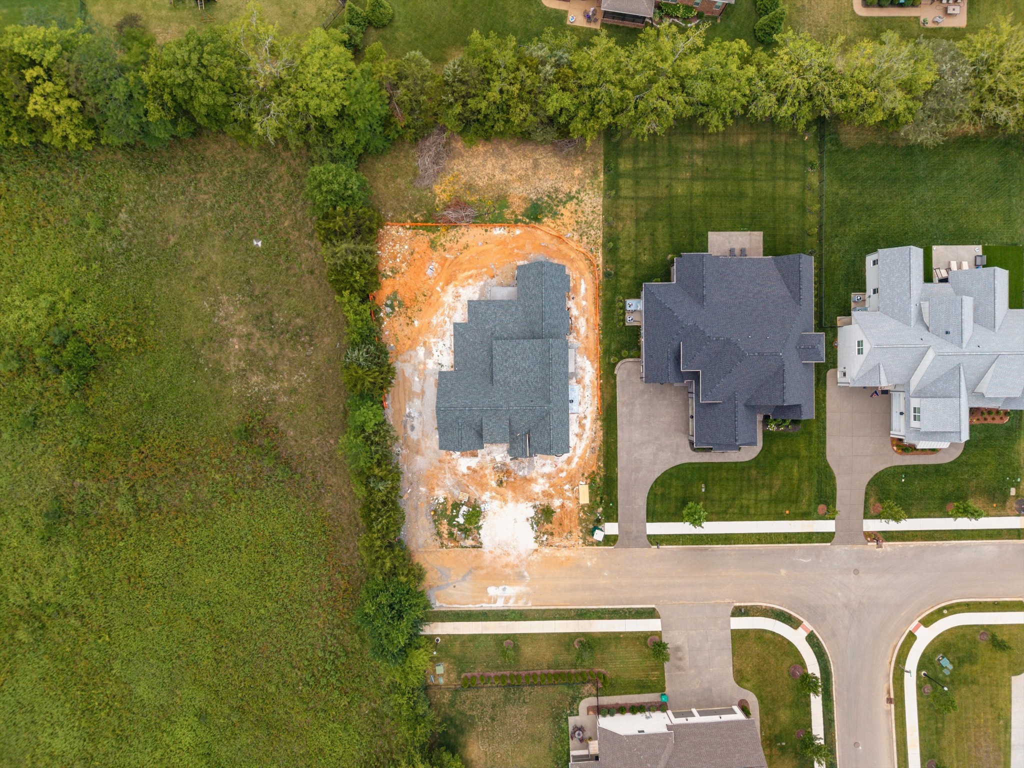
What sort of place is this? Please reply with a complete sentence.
This looks like a residential area.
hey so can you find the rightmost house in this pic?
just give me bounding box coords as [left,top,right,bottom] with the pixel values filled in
[838,246,1024,448]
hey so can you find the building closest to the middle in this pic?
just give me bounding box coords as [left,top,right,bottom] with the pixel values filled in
[436,261,569,458]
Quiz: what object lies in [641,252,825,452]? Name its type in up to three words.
house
